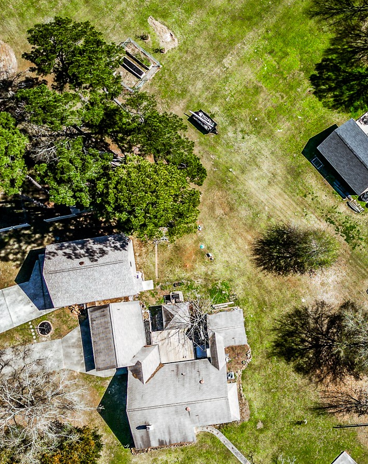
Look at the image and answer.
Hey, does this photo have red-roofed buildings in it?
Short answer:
No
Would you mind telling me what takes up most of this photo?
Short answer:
grass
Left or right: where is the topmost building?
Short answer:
right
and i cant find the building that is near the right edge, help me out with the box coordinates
[317,119,368,195]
